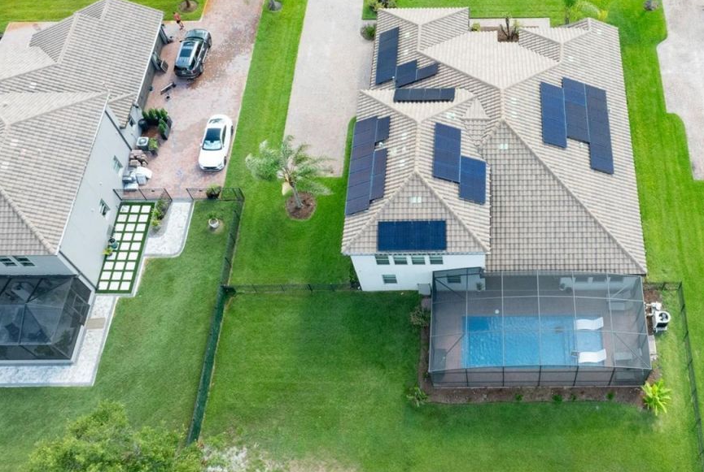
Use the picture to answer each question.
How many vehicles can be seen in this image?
2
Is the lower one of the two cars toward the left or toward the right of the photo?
left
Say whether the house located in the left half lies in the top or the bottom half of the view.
top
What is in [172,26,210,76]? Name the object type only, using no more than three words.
car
